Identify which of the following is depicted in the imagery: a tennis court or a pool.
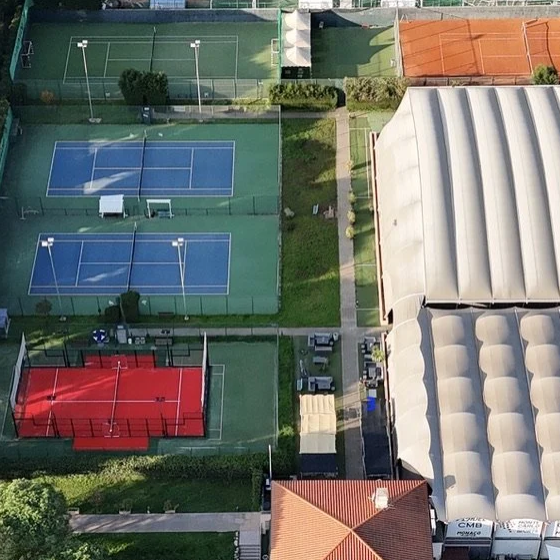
tennis court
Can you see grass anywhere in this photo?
Yes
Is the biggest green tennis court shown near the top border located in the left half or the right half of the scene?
left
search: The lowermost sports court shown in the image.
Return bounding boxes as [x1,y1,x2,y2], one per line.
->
[0,338,279,451]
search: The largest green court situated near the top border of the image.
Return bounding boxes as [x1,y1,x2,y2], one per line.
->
[13,22,281,93]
